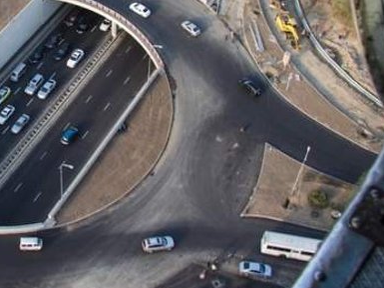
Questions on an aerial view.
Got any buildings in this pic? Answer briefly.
No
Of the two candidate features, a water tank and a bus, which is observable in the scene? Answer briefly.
bus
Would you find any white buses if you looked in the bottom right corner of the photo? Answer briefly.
Yes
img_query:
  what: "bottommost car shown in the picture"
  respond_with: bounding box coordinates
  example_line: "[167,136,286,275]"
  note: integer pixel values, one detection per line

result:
[238,261,271,279]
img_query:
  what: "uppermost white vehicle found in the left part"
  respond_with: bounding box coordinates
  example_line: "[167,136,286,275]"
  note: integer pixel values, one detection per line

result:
[128,5,151,19]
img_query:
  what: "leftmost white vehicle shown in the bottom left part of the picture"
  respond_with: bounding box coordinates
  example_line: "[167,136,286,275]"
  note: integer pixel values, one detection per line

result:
[19,235,43,252]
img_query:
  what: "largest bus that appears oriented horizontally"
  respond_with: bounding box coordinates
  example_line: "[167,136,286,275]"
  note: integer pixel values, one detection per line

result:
[257,227,319,259]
